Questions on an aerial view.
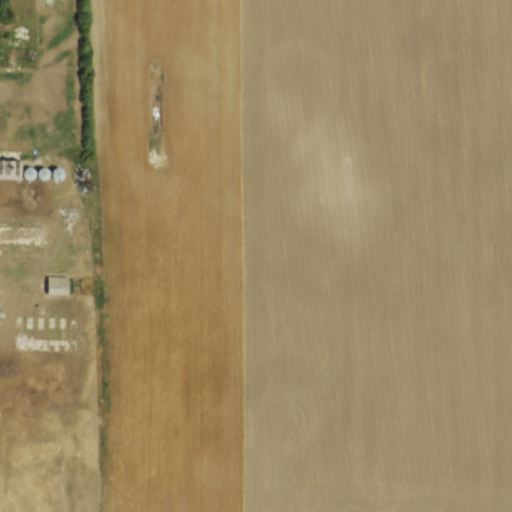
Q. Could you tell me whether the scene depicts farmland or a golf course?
farmland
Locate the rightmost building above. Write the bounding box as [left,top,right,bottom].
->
[48,276,70,295]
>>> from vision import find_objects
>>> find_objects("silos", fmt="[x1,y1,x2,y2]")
[24,168,38,182]
[38,168,52,182]
[52,168,66,184]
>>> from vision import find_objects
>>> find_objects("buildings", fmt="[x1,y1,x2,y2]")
[48,276,70,295]
[0,160,20,176]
